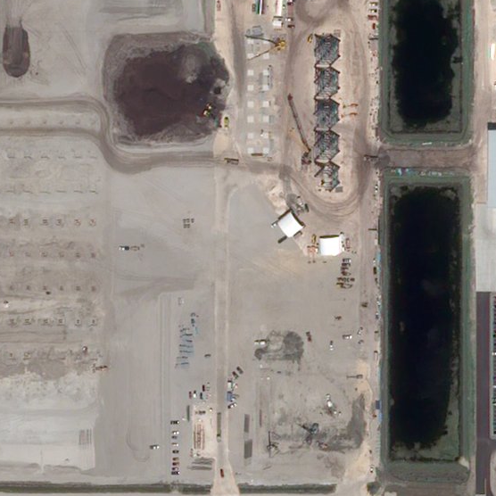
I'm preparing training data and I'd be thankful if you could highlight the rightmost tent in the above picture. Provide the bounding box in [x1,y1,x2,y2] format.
[322,234,344,253]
